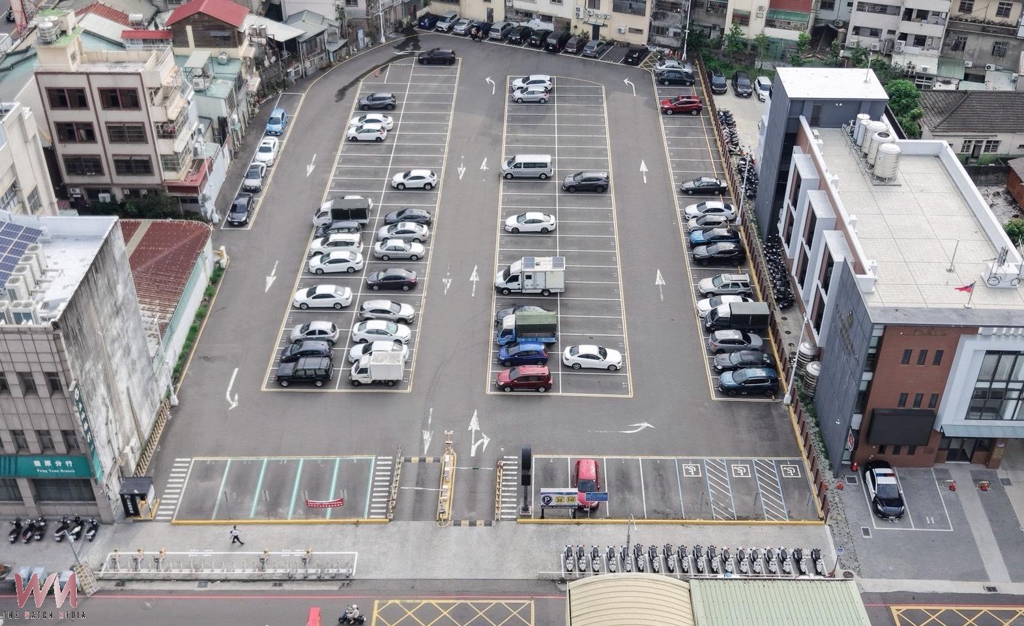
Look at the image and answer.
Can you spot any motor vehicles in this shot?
Yes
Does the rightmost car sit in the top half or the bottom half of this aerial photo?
bottom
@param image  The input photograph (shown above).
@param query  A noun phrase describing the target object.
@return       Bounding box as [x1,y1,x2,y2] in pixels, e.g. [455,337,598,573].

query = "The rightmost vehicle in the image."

[865,459,912,517]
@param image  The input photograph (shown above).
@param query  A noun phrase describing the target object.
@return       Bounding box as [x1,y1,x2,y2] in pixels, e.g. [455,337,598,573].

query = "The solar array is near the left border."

[0,222,42,295]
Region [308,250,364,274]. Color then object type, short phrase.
white car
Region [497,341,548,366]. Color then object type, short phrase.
blue car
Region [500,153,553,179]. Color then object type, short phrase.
white vehicle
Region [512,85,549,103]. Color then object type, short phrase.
gray car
